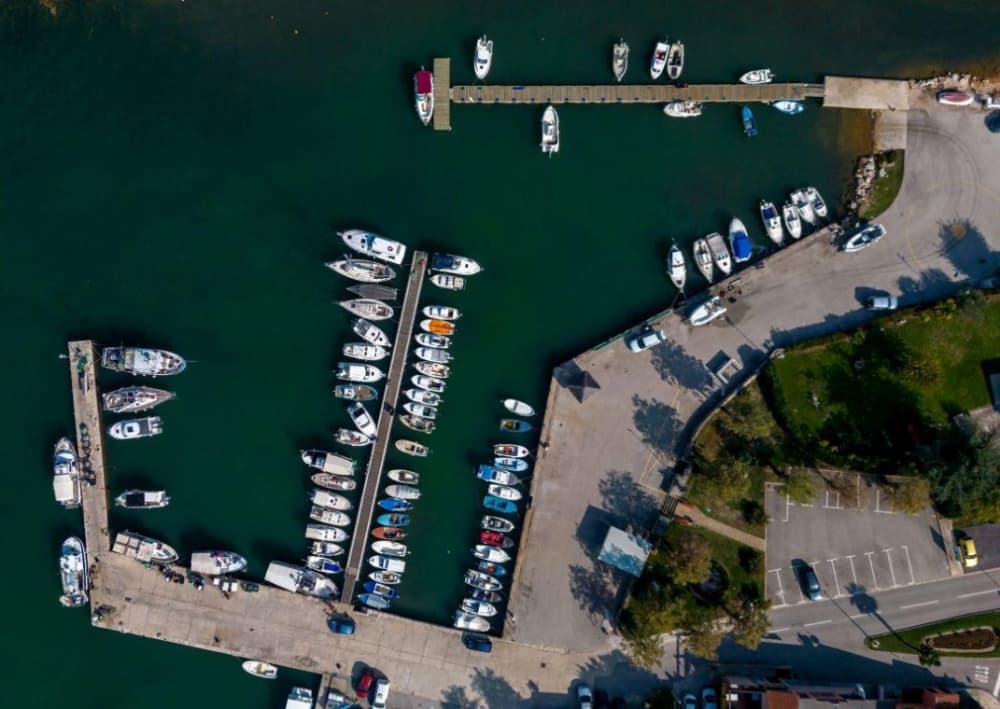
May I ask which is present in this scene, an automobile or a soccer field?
automobile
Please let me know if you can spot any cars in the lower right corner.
Yes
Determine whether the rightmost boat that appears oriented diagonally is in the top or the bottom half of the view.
top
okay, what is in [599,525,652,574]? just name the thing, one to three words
building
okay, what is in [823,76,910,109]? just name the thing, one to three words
pier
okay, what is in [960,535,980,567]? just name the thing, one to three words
car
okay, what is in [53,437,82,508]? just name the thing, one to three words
boat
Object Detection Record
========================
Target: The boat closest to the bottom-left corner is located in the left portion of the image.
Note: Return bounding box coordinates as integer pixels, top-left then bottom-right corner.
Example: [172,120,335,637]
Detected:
[60,536,90,607]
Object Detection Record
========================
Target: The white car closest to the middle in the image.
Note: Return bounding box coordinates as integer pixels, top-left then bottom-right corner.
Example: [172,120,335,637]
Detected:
[628,329,667,354]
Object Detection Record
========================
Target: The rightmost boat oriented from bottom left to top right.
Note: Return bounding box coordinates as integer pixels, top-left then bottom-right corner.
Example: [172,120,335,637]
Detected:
[845,221,888,252]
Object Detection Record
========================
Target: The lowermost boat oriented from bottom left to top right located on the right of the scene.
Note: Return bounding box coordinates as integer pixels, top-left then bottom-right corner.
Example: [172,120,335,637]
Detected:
[690,298,727,326]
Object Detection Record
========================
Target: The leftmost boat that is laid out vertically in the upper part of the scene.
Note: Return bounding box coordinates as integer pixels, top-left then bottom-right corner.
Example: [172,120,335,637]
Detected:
[412,66,434,125]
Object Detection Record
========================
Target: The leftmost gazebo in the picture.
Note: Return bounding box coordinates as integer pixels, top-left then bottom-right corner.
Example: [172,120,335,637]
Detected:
[568,371,600,402]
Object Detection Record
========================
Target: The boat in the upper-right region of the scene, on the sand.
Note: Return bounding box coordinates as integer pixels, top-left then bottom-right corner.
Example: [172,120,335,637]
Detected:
[938,90,975,105]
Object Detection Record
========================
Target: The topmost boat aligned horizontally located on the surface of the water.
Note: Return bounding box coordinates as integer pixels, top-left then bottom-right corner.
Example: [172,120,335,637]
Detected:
[739,70,775,85]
